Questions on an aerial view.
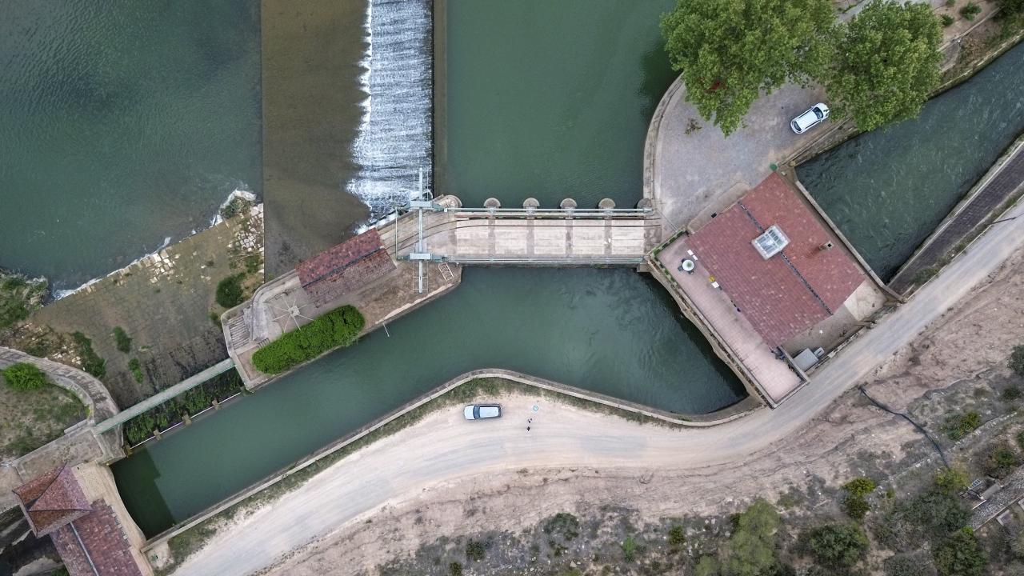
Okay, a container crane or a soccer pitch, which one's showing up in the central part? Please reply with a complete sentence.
You can see a container crane in the central part.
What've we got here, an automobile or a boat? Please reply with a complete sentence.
There is an automobile in the scene.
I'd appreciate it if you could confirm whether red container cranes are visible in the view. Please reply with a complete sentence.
No, there's no red container crane here.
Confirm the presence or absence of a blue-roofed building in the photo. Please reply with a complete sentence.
No, the photo shows no blue-roofed building.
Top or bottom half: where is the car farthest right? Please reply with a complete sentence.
Seen from above, the car farthest right lies in the top half of the view.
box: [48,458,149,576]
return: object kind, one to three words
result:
building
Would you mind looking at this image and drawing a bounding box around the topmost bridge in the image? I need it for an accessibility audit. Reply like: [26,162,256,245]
[441,195,662,267]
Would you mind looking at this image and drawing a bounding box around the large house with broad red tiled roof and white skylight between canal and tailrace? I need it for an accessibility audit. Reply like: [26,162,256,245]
[686,172,866,347]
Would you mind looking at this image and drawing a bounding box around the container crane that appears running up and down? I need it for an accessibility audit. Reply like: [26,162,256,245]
[394,164,450,297]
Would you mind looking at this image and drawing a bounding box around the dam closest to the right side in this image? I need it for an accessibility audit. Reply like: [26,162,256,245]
[261,0,446,280]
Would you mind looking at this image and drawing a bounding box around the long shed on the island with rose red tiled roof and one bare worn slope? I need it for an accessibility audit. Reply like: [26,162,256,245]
[296,228,397,309]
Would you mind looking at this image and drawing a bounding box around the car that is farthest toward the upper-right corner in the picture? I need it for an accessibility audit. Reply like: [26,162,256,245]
[792,104,831,133]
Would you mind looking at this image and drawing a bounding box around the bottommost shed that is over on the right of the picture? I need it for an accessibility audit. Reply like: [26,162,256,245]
[787,347,819,372]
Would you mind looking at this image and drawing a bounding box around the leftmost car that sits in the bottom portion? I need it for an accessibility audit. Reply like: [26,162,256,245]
[465,404,501,421]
